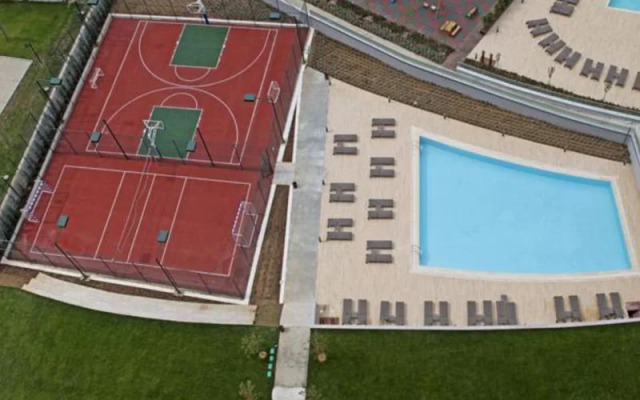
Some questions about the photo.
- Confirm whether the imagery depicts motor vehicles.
No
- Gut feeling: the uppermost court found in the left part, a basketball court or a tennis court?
basketball court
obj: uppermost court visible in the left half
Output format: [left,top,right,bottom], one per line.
[54,17,309,172]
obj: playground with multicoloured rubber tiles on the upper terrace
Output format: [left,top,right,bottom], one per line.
[358,0,498,49]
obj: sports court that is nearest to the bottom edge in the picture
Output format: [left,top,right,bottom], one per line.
[9,152,277,298]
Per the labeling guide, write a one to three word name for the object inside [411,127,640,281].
swimming pool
